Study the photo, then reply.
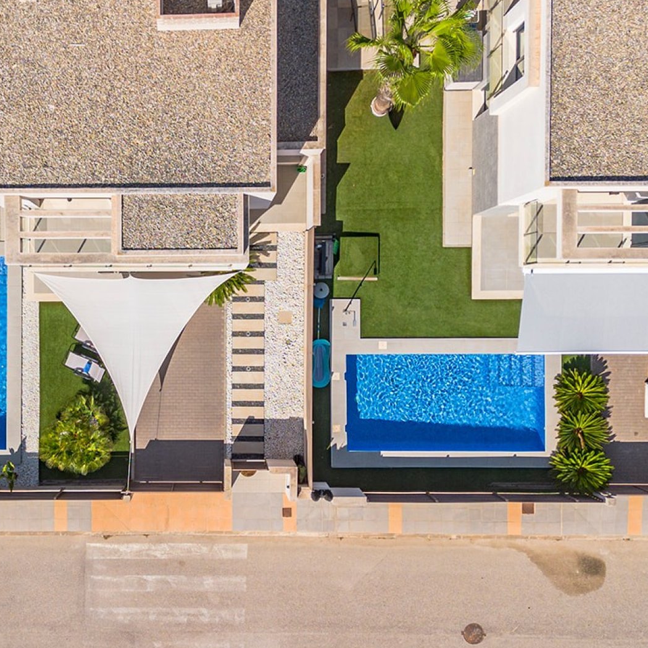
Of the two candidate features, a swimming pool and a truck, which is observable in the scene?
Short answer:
swimming pool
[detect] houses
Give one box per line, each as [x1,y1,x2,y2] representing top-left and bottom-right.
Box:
[0,0,329,274]
[472,0,648,268]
